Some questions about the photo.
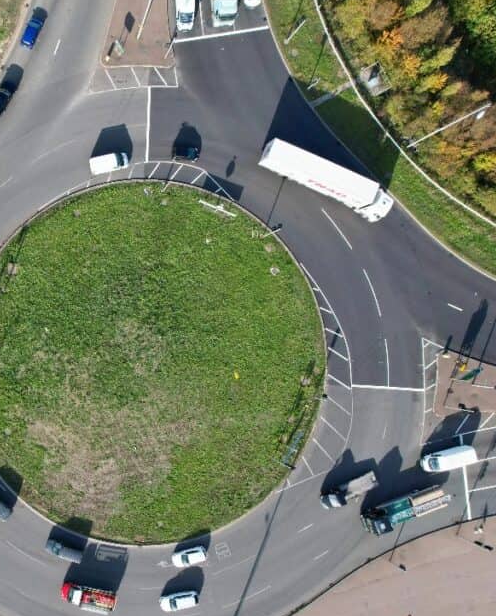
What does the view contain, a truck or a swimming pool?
truck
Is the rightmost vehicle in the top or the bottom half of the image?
bottom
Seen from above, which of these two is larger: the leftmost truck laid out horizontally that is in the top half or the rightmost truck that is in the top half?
the rightmost truck that is in the top half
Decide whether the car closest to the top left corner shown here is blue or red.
blue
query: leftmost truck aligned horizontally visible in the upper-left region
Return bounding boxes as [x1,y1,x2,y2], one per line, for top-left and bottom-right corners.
[88,151,130,177]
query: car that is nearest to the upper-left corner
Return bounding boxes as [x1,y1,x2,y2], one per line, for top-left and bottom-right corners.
[21,17,43,50]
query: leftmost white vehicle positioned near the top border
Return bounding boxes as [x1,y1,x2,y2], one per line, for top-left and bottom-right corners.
[174,0,196,31]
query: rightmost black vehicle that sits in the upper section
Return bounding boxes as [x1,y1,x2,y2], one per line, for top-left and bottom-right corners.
[169,146,202,165]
